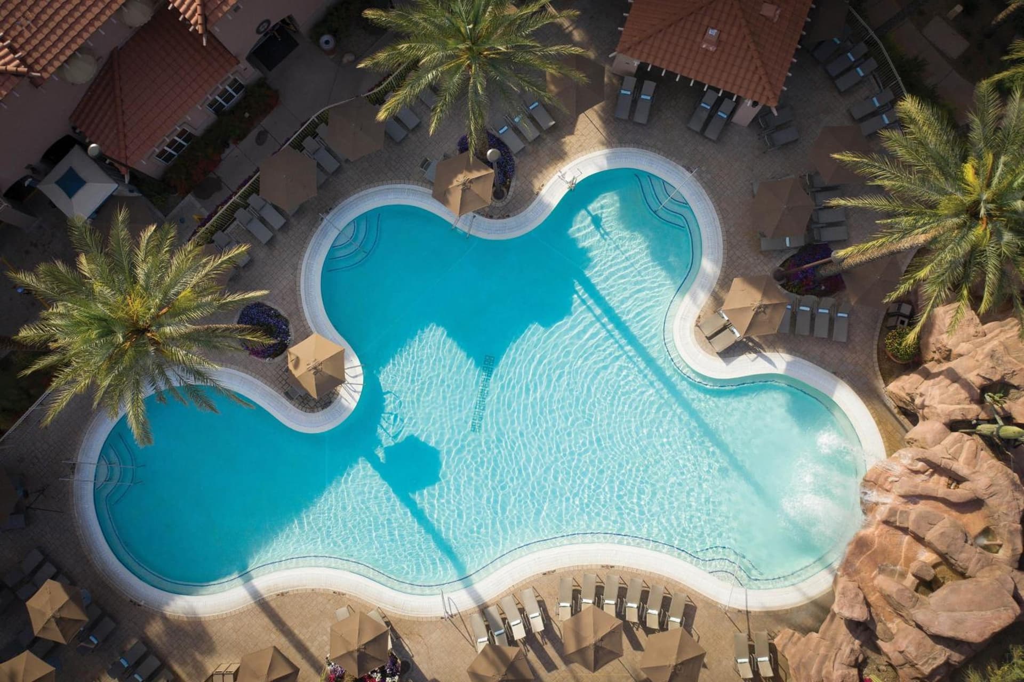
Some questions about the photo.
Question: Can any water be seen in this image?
Yes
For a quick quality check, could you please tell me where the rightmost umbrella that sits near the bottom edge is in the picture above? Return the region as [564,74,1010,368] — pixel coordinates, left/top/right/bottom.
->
[637,624,707,682]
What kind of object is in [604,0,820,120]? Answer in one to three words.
building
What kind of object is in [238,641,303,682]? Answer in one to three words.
umbrella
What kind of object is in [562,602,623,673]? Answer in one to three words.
umbrella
